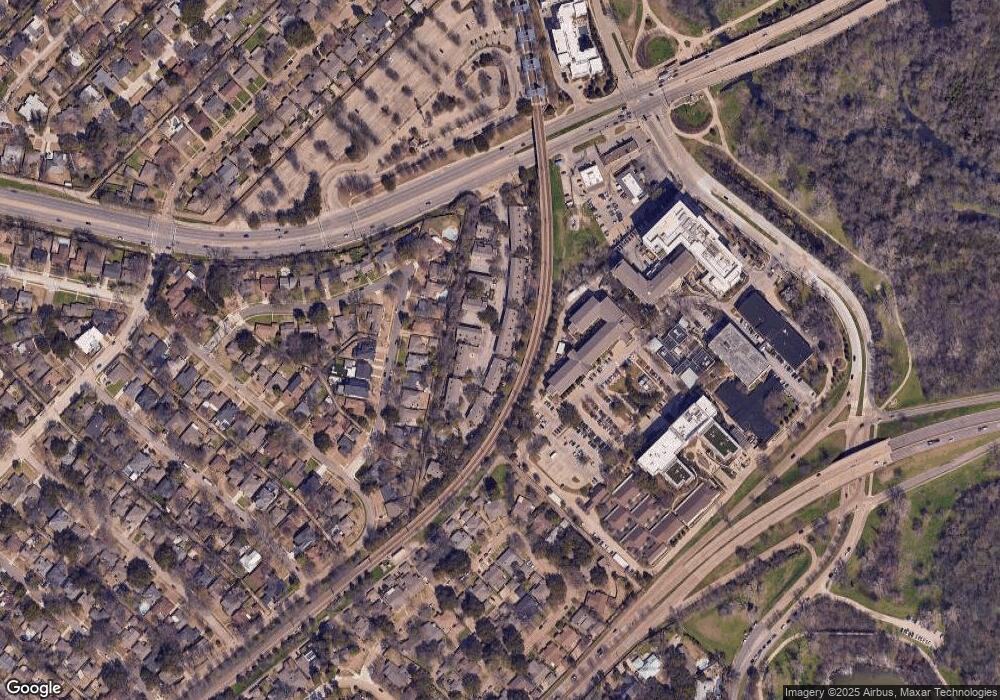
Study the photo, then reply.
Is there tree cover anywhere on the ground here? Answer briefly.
Yes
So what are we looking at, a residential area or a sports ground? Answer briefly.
residential area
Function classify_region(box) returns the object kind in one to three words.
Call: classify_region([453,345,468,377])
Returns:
building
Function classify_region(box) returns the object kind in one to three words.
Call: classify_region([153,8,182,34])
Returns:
house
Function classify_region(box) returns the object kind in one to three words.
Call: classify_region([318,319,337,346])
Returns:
house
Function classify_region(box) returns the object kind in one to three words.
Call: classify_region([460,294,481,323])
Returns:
building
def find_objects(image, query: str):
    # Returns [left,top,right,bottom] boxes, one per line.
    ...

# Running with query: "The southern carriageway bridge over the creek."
[653,0,907,110]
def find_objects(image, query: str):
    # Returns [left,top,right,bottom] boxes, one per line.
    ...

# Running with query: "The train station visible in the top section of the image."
[495,0,550,104]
